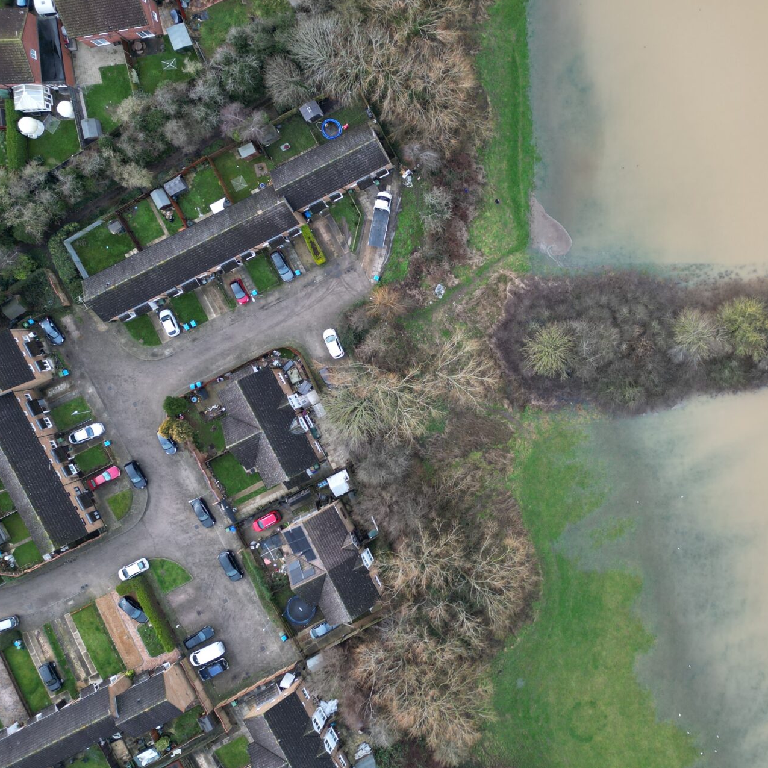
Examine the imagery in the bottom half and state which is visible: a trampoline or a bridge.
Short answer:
trampoline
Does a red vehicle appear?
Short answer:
Yes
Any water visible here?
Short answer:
Yes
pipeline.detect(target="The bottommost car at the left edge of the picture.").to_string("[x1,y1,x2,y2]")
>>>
[38,662,65,692]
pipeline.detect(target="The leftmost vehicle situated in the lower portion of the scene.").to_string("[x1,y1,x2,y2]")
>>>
[0,613,22,633]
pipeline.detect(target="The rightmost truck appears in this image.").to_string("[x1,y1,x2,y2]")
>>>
[368,192,392,248]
